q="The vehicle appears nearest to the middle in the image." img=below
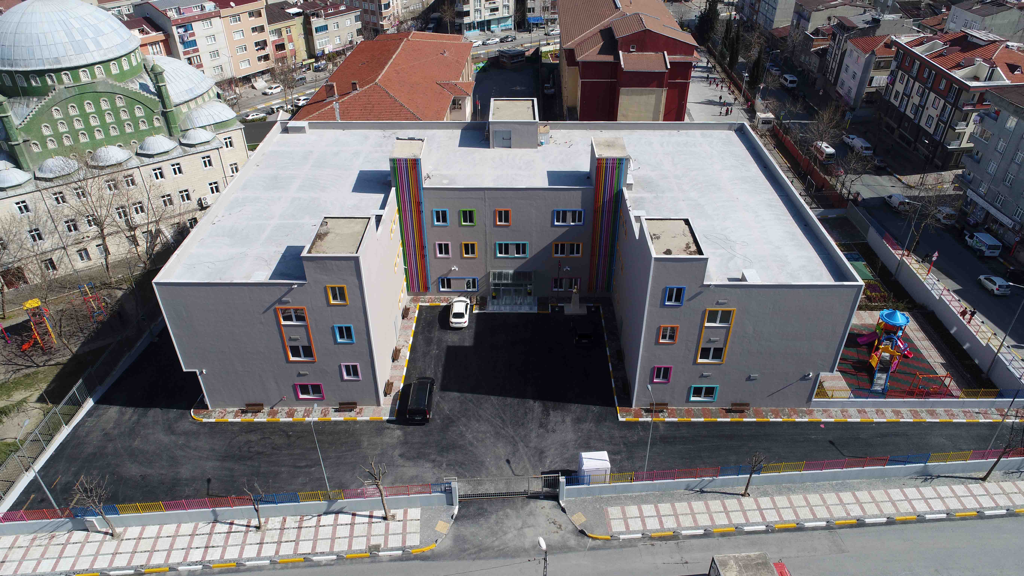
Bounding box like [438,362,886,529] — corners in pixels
[451,295,472,322]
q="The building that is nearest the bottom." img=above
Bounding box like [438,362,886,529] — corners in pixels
[577,447,611,481]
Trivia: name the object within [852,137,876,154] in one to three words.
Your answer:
vehicle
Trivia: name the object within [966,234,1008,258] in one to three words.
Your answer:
vehicle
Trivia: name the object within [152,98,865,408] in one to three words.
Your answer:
building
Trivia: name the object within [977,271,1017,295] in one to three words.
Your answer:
car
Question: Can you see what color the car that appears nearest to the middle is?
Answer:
white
